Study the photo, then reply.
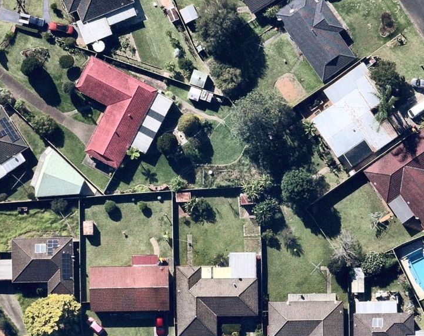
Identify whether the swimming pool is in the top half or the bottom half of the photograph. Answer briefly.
bottom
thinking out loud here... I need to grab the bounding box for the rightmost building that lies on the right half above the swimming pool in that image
[364,132,424,231]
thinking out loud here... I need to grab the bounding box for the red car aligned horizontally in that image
[49,21,74,35]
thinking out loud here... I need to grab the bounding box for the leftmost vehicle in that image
[19,14,45,28]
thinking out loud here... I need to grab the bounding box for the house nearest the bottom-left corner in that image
[0,237,75,296]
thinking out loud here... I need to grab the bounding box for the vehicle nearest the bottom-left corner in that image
[86,315,105,334]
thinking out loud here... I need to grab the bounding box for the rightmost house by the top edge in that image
[277,0,355,83]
